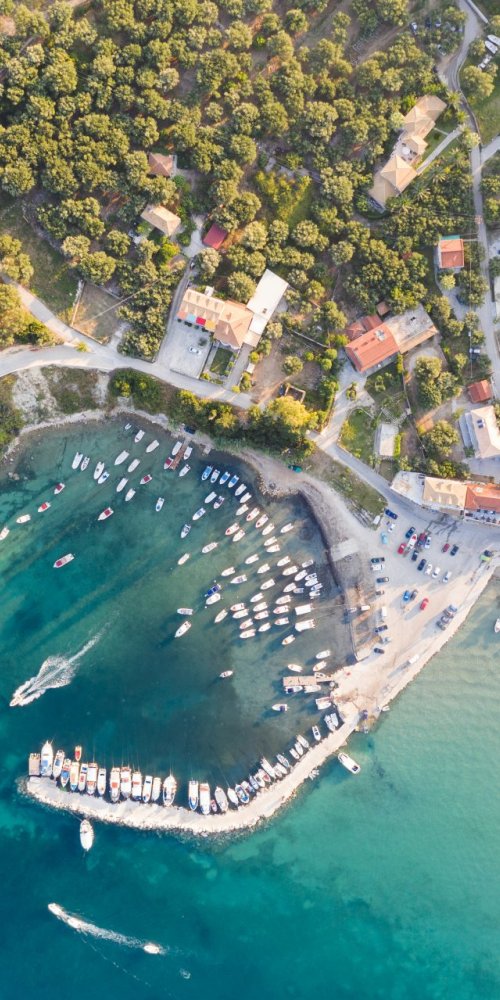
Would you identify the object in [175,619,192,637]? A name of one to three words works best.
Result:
boat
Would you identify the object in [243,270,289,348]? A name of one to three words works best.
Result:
building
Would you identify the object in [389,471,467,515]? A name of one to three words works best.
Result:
house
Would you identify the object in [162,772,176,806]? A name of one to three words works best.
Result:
boat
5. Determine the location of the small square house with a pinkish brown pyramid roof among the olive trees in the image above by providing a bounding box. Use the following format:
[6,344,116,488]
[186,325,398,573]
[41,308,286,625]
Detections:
[149,152,176,177]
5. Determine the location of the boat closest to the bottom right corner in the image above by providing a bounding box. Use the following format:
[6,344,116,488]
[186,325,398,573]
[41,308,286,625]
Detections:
[339,753,362,777]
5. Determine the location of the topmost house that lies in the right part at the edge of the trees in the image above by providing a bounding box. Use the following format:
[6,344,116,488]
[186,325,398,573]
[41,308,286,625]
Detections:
[367,96,446,212]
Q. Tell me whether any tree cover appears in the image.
Yes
